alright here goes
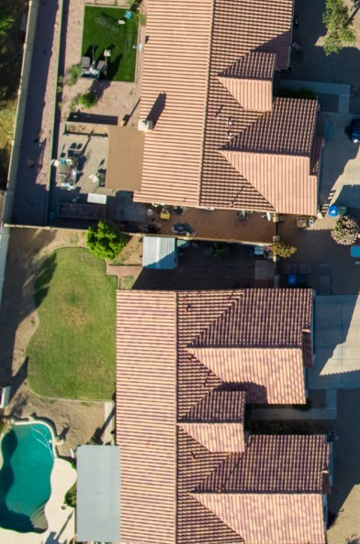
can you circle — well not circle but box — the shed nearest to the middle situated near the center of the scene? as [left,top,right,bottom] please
[134,235,177,268]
